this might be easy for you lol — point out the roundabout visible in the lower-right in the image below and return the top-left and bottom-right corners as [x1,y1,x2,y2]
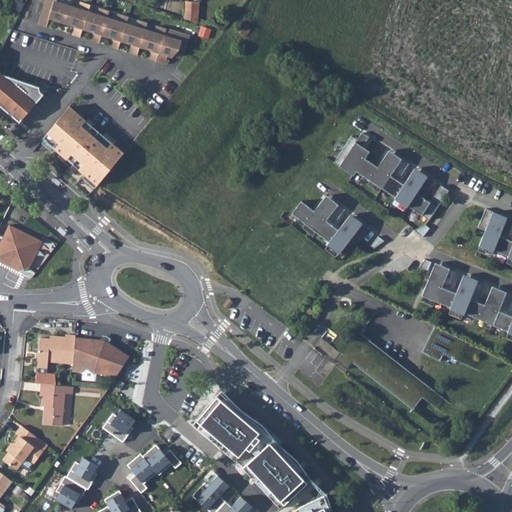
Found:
[381,469,512,512]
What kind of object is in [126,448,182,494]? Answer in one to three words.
house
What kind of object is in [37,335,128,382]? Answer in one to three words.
house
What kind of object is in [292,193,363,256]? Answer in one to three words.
building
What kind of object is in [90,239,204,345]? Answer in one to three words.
roundabout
